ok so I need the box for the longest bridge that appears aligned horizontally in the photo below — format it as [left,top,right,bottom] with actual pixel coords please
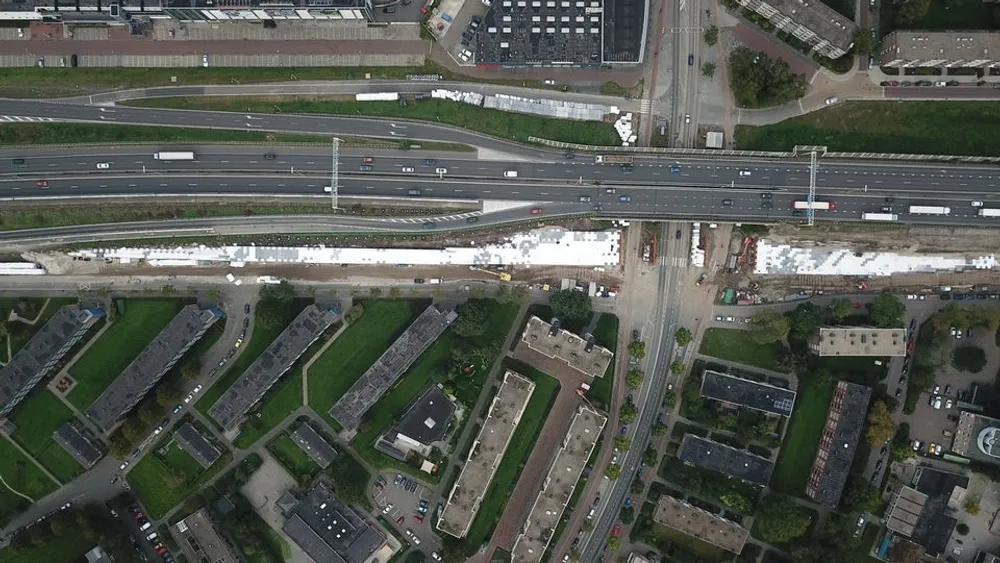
[591,146,770,227]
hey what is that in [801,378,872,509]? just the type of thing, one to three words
building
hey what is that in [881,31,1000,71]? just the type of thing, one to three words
building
